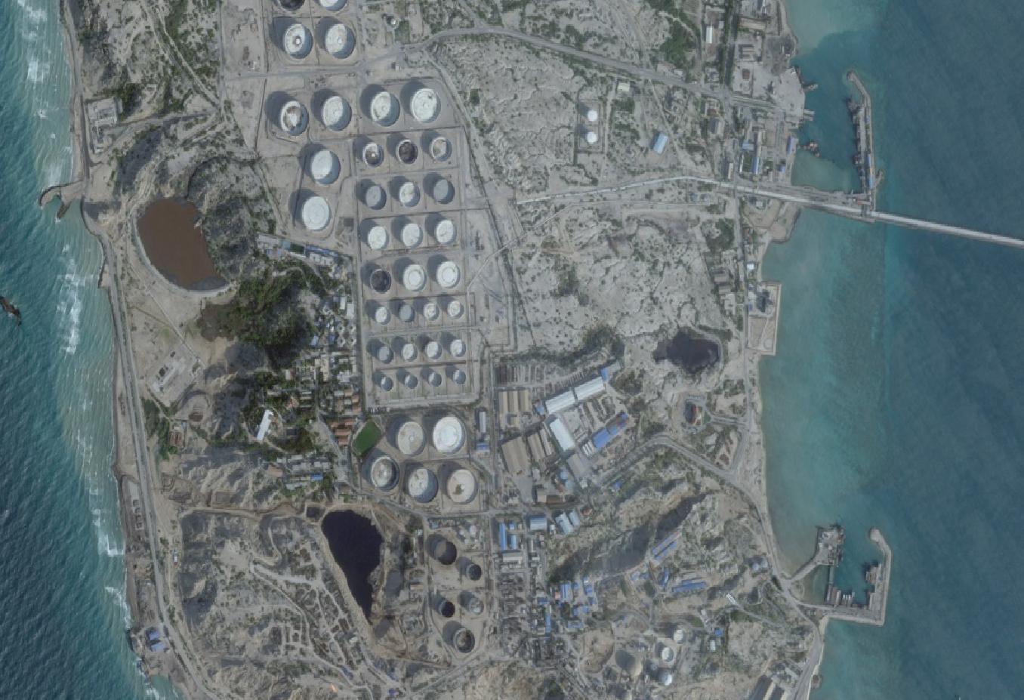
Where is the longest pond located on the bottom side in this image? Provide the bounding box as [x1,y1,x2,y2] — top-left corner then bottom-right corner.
[324,511,383,620]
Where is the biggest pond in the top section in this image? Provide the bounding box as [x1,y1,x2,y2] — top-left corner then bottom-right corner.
[139,199,223,286]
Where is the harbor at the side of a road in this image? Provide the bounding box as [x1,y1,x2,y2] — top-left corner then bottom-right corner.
[788,525,891,625]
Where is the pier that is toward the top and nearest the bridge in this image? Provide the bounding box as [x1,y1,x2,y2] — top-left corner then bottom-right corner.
[791,71,883,223]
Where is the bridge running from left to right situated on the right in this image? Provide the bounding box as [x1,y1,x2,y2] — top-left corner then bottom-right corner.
[868,211,1024,246]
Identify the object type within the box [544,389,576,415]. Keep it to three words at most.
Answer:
building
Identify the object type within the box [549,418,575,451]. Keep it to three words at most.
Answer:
building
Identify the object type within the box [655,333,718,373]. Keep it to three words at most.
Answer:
pond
